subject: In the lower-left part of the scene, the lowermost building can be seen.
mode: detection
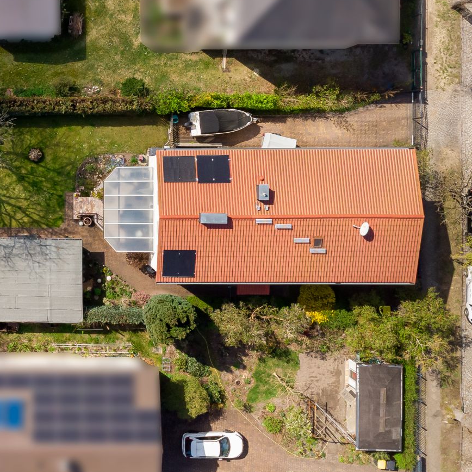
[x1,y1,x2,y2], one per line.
[0,349,162,472]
